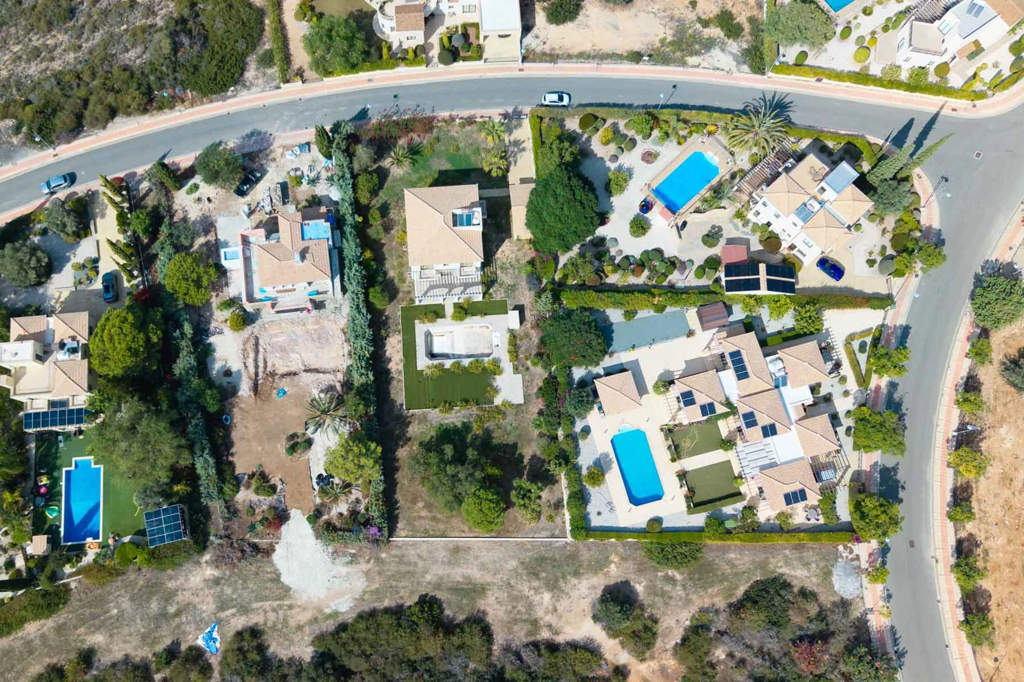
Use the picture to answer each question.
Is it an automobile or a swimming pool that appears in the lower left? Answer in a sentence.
The one visible in the lower left is a swimming pool.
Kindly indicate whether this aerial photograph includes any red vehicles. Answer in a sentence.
No, no red vehicle is visible in the view.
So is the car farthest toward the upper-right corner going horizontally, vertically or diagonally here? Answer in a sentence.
In this picture, the car farthest toward the upper-right corner is oriented diagonally.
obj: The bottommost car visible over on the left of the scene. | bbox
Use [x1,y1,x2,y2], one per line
[100,271,119,302]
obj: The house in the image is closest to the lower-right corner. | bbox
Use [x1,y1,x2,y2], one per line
[675,331,841,509]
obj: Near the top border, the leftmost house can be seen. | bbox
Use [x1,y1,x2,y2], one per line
[363,0,480,67]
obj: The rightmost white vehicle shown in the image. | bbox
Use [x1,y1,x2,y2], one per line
[542,91,570,106]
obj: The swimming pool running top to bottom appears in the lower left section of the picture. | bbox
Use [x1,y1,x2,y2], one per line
[60,455,104,546]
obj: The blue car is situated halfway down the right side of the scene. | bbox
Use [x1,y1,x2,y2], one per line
[814,257,846,283]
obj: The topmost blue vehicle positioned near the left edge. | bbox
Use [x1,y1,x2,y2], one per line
[38,173,72,193]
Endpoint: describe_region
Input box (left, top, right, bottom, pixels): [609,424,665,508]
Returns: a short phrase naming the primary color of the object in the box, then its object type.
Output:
blue swimming pool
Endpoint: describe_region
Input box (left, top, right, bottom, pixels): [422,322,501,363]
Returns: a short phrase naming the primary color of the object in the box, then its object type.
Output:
white swimming pool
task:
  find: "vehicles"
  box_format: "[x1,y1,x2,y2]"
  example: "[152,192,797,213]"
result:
[542,91,570,106]
[814,257,846,283]
[233,168,263,193]
[38,173,72,193]
[100,271,119,302]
